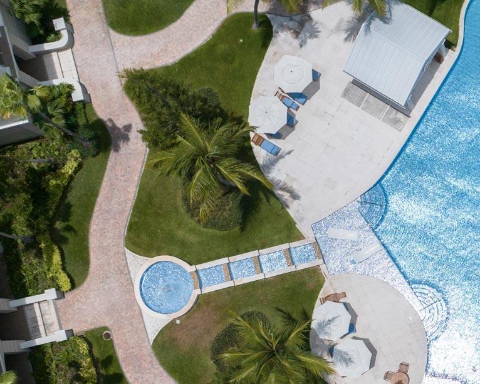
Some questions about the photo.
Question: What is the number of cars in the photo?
zero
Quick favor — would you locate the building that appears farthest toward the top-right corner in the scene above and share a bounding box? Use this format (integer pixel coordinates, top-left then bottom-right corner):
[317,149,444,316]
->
[342,0,451,114]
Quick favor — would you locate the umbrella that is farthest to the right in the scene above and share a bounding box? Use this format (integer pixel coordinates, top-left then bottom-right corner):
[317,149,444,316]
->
[335,338,372,375]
